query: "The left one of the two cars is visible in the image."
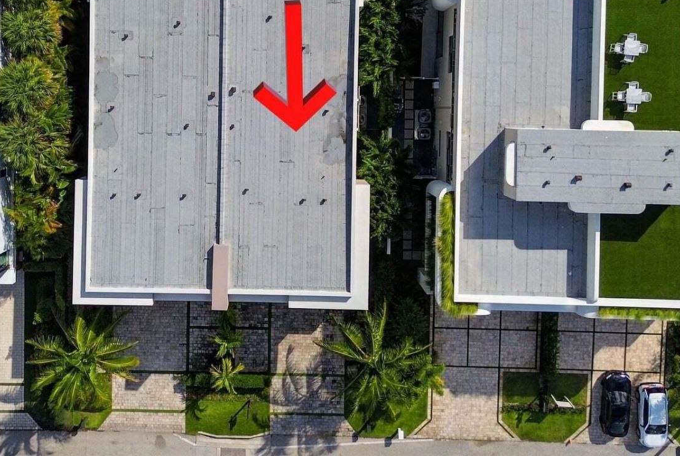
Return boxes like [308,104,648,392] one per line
[598,368,637,443]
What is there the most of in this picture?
buildings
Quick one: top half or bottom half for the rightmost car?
bottom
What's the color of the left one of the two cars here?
black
